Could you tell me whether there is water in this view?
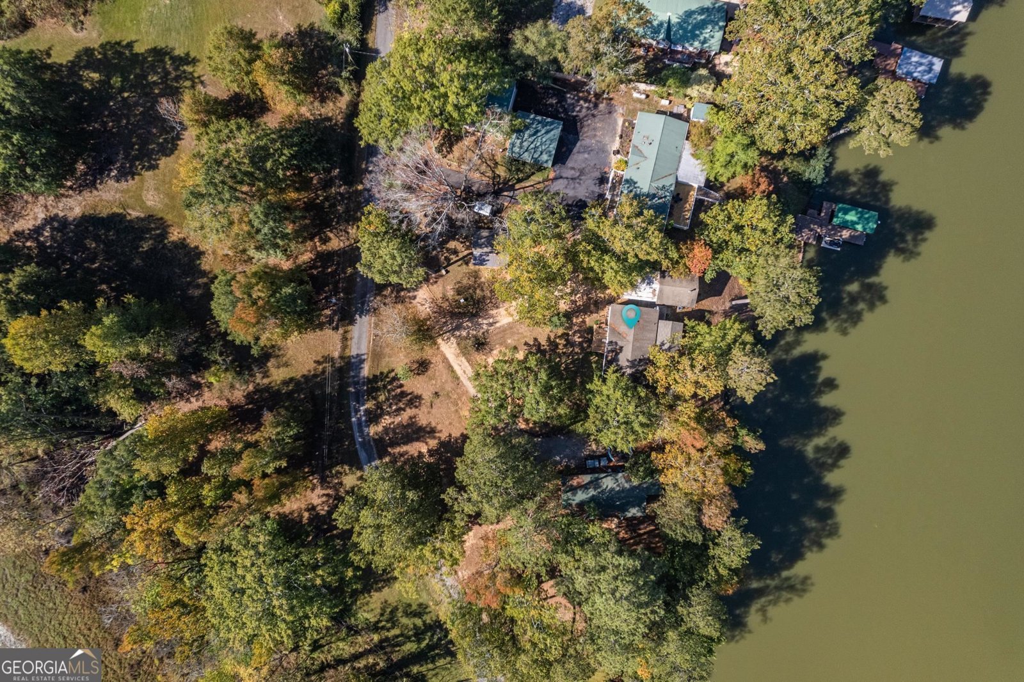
Yes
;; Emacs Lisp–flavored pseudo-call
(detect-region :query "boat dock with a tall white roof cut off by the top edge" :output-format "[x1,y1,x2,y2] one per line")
[906,0,970,33]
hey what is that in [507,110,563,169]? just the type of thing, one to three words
building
